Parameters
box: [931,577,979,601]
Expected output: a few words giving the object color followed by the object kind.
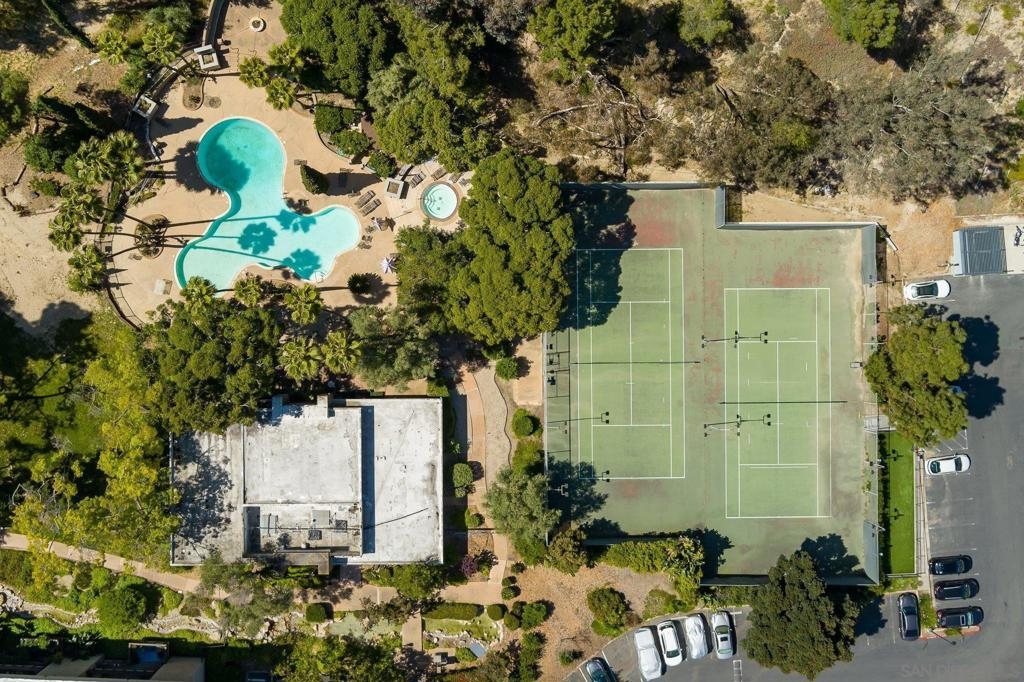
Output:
black car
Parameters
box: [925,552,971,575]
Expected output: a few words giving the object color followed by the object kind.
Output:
black car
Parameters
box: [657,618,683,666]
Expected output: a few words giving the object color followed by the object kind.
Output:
white car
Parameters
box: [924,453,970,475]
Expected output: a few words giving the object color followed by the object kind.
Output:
white car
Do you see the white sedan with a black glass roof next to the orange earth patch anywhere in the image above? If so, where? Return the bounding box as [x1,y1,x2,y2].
[901,278,950,300]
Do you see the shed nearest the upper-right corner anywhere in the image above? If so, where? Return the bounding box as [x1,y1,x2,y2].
[951,227,1006,276]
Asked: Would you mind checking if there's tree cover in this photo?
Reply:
Yes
